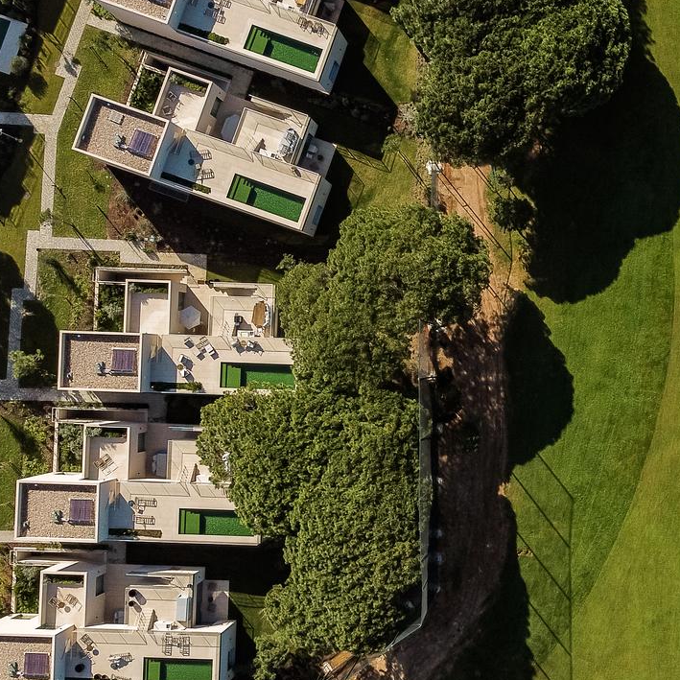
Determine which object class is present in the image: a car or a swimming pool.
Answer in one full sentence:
Visible in the photo is a swimming pool.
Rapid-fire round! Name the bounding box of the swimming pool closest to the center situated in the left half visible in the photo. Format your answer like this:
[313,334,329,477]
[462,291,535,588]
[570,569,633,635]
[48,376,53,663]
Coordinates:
[220,362,293,389]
